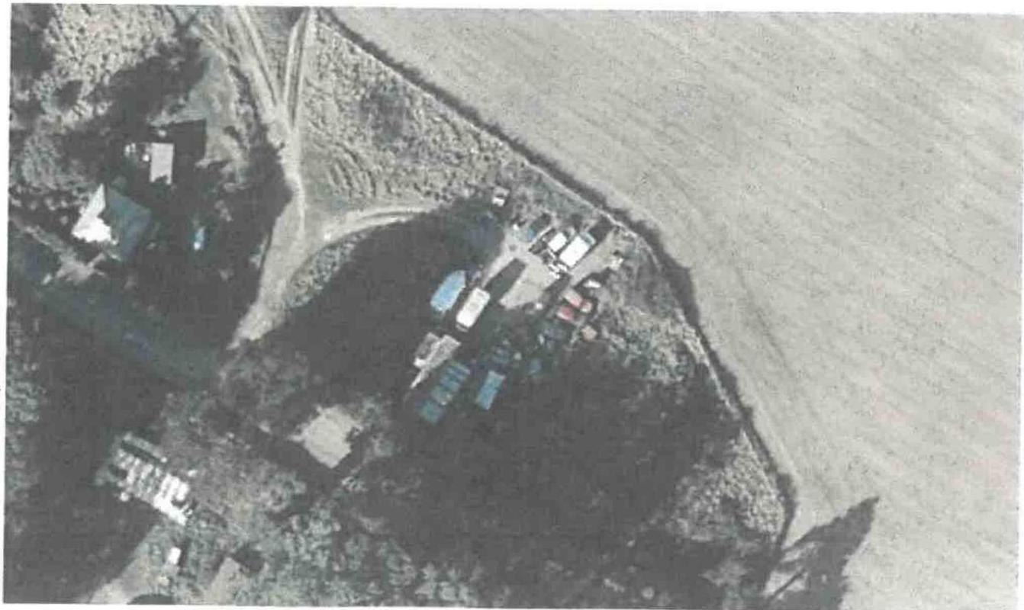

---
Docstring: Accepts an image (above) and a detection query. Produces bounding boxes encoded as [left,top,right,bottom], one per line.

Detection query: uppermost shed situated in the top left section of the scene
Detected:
[148,140,174,184]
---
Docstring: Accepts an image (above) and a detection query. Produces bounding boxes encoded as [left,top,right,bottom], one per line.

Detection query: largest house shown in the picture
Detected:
[69,181,150,262]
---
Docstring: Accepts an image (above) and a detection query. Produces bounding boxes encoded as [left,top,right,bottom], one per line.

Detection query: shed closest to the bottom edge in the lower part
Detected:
[199,560,239,607]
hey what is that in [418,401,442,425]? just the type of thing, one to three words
shed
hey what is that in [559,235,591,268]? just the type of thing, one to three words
building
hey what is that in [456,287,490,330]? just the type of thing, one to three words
camper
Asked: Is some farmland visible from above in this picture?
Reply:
Yes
